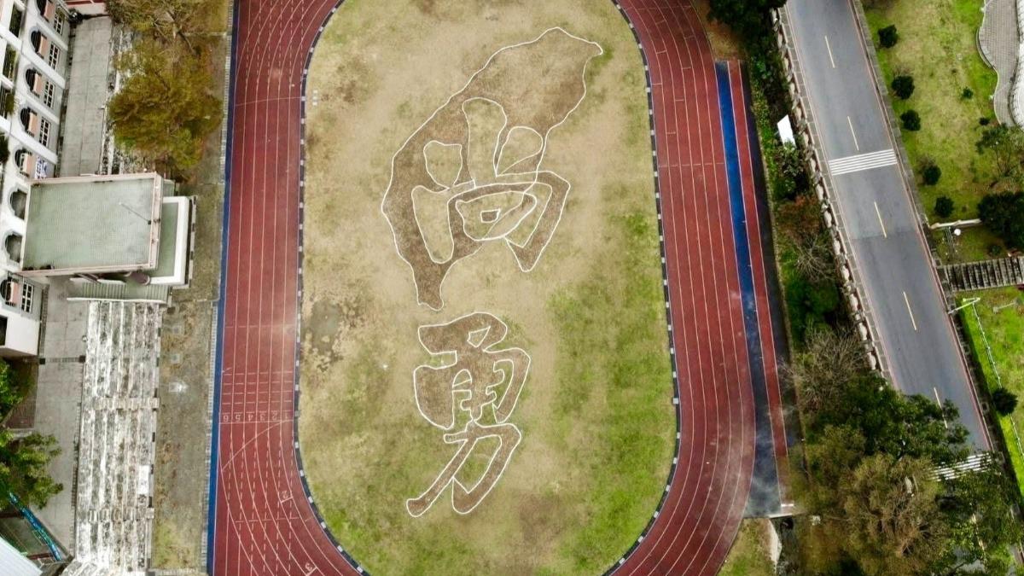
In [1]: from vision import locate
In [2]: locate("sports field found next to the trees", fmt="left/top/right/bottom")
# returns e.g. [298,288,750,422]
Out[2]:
[299,0,675,576]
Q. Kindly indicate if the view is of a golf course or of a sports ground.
sports ground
